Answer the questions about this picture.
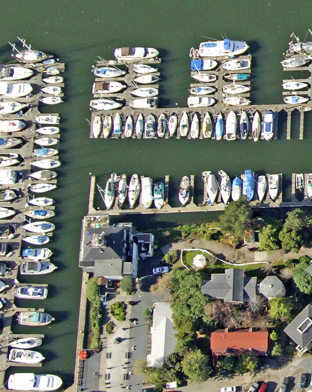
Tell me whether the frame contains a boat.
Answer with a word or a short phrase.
Yes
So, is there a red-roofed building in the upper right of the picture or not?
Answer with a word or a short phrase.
No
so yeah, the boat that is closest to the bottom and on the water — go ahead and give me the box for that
[5,373,62,391]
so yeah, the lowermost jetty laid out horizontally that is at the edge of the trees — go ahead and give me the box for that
[88,173,312,216]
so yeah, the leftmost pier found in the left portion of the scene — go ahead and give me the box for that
[0,61,66,392]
